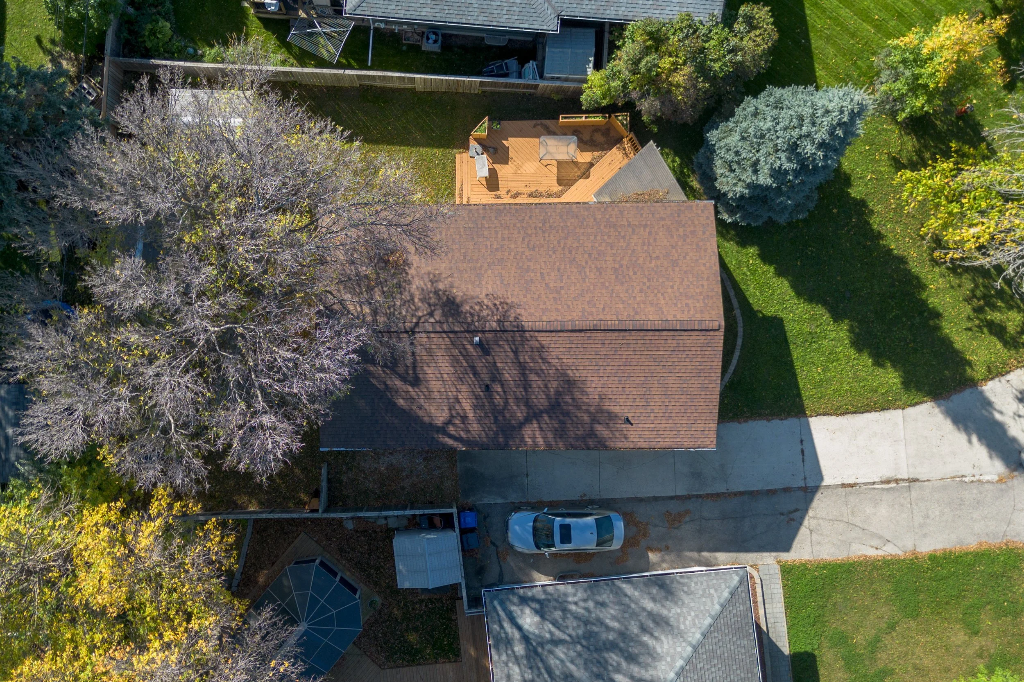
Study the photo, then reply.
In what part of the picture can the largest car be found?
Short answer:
bottom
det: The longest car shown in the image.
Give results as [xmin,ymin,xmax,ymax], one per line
[504,505,623,563]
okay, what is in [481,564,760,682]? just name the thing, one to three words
house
